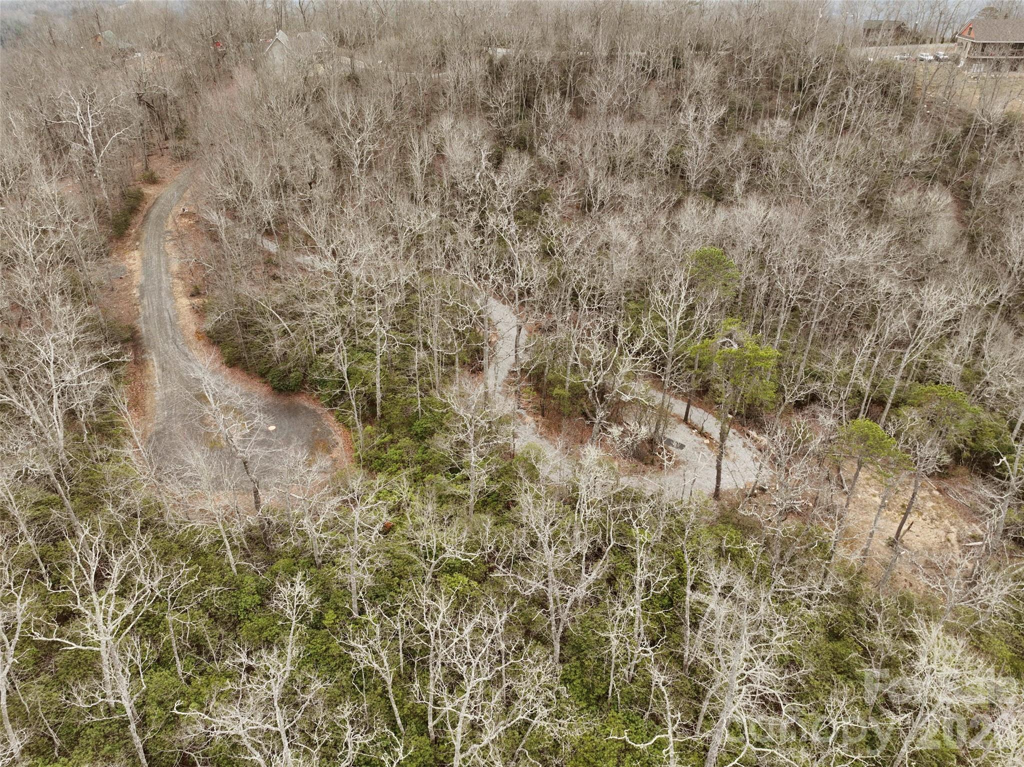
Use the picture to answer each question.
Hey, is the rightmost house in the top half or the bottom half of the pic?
top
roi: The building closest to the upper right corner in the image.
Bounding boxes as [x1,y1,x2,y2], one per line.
[956,14,1024,77]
